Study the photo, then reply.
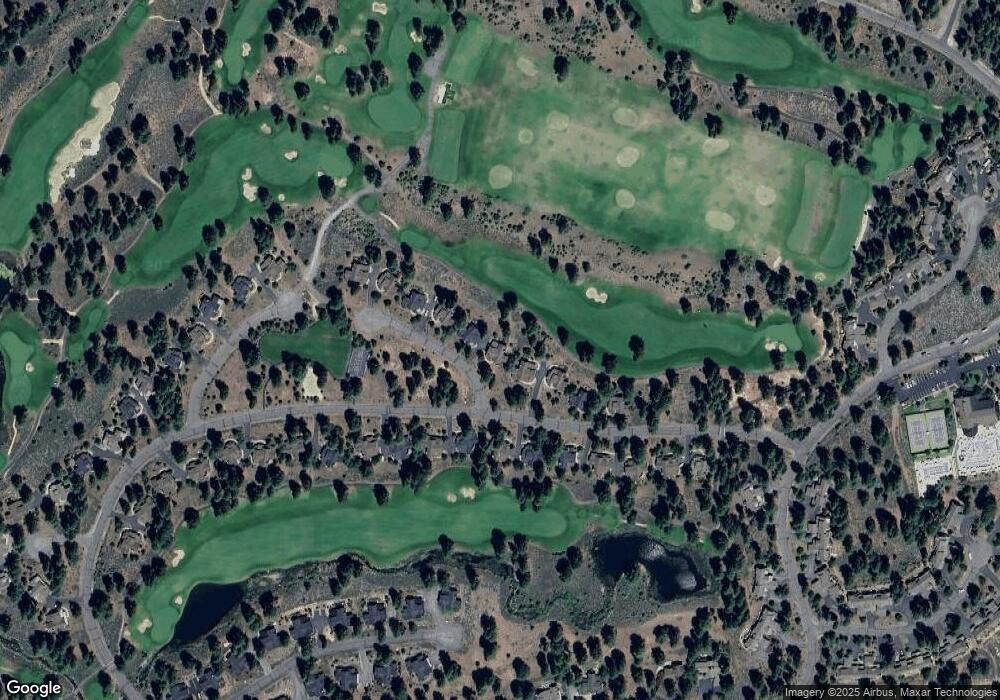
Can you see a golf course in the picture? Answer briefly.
Yes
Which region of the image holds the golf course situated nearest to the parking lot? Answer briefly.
center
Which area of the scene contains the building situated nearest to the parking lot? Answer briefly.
right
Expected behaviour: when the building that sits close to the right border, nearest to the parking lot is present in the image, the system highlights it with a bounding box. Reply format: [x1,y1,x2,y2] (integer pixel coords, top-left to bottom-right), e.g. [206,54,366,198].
[953,394,996,435]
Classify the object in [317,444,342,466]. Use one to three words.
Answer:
house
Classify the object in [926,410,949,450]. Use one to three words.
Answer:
tennis court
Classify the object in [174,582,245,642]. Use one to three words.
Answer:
pond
